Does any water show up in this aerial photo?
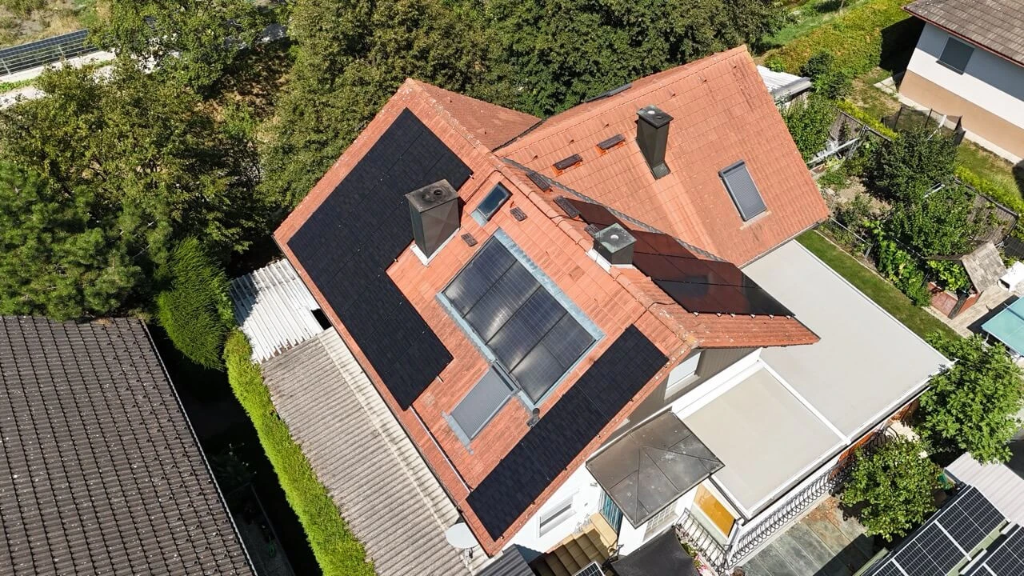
No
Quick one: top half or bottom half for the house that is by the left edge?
bottom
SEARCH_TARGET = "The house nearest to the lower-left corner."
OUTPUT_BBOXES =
[0,313,260,576]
